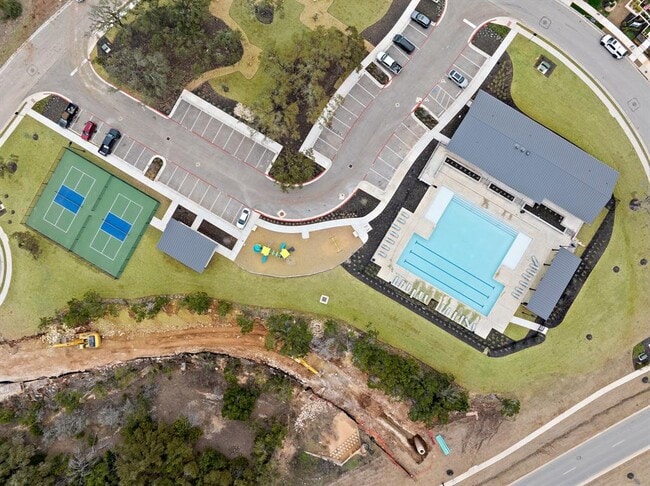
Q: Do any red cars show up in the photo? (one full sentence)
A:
Yes, a red car appears in the view.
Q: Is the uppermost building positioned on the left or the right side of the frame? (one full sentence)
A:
The uppermost building is on the right side of the image.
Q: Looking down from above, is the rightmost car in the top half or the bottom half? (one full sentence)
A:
The rightmost car is in the top half of the image.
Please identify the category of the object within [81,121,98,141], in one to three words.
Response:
car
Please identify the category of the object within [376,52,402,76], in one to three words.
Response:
truck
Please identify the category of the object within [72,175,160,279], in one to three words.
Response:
sports court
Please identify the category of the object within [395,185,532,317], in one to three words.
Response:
swimming pool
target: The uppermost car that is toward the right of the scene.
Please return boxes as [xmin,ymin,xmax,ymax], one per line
[409,11,431,30]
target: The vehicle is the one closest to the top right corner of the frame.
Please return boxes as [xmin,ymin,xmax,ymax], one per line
[600,37,627,58]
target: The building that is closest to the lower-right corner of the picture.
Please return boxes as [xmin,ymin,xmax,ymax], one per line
[526,246,581,320]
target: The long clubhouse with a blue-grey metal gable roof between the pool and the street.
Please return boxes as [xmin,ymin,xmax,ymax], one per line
[446,89,620,225]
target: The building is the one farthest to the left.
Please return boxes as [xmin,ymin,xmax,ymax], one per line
[156,217,217,273]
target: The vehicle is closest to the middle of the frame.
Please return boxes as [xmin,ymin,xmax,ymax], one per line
[236,207,252,230]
